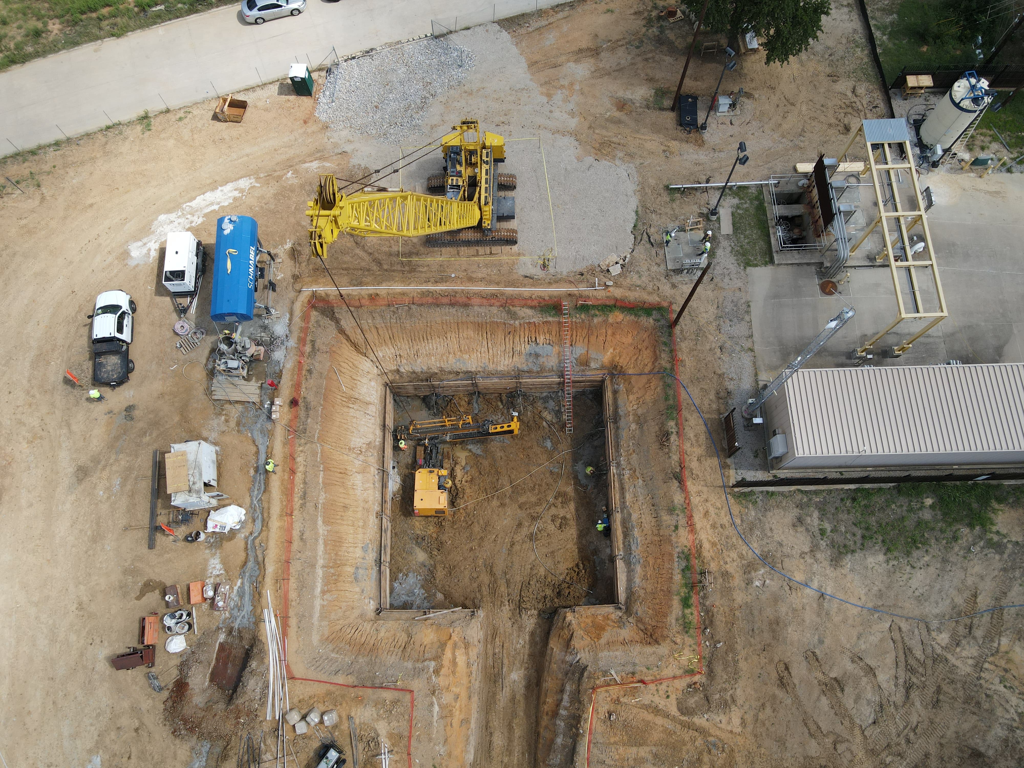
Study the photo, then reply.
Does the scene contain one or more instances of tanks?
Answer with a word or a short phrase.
Yes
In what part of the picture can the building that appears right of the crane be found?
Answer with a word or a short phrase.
right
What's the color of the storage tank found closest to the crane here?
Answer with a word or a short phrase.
blue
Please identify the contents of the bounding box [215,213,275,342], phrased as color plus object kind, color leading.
blue storage tank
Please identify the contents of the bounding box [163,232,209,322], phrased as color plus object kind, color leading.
white trailer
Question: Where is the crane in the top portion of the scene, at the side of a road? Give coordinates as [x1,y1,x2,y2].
[304,115,518,486]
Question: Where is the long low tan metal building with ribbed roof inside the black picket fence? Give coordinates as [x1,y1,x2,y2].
[754,358,1024,477]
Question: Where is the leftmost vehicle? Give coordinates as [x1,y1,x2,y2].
[83,287,134,385]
